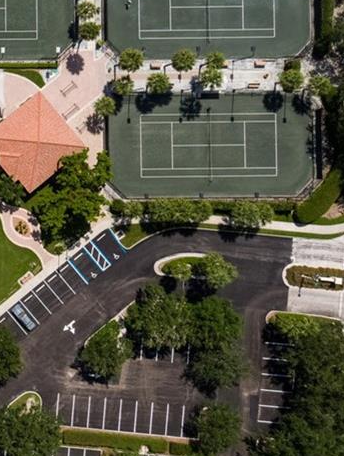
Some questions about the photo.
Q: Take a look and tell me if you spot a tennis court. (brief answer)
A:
Yes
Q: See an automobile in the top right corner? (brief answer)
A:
No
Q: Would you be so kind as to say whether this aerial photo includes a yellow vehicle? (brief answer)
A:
No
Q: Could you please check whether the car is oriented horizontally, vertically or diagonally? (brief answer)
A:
diagonally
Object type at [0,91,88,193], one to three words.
building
